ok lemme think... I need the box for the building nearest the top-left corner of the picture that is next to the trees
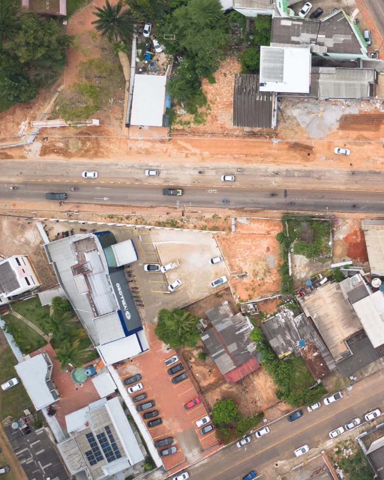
[130,74,174,127]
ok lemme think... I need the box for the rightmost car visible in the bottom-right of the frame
[364,409,381,421]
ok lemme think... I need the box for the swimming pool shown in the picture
[67,363,97,384]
